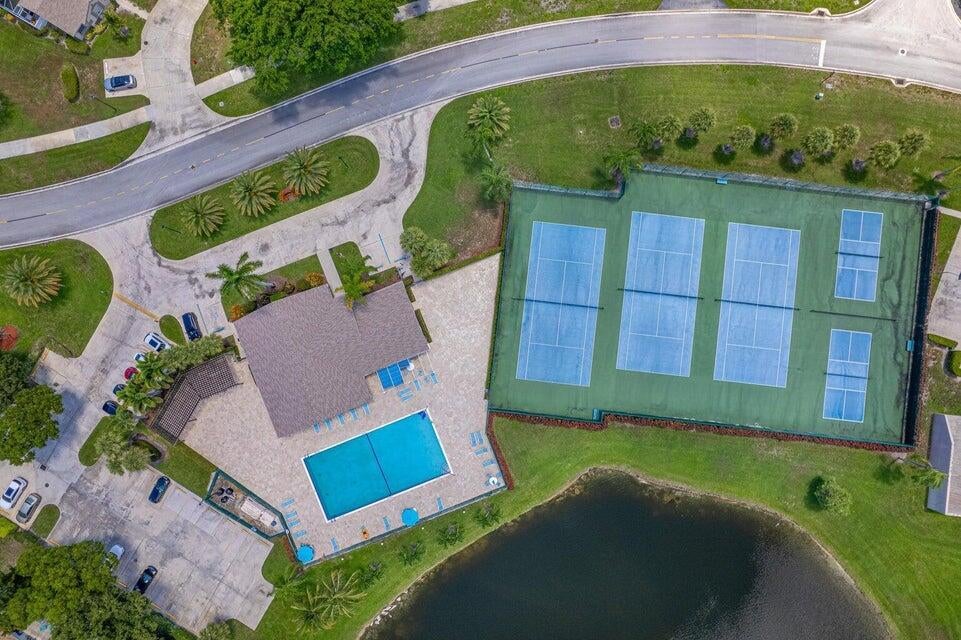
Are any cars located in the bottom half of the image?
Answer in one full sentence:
Yes, you'll find a car in the bottom half of the image.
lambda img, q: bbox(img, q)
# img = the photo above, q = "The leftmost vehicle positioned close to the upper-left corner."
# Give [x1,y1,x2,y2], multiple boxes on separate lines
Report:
[103,72,136,90]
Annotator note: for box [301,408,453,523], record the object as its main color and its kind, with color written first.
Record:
blue swimming pool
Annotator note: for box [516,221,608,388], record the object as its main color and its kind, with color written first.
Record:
blue tennis court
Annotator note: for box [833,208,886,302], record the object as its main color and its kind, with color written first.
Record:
blue sports court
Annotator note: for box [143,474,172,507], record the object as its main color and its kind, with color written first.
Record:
blue car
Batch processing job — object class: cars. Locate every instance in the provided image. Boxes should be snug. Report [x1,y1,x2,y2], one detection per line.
[143,474,172,507]
[127,349,152,369]
[138,331,173,353]
[131,566,157,594]
[117,365,144,385]
[105,380,136,404]
[103,72,136,90]
[13,492,40,526]
[97,399,114,420]
[0,478,24,510]
[178,310,200,340]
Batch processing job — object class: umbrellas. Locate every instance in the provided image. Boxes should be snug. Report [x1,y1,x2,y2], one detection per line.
[402,508,419,526]
[297,543,315,561]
